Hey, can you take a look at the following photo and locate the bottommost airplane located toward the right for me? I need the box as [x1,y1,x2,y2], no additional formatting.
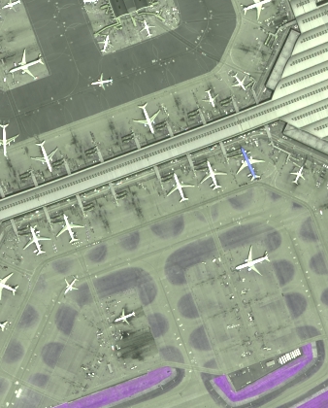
[236,241,273,274]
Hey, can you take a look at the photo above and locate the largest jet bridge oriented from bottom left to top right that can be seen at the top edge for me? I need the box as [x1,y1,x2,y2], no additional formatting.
[265,20,297,45]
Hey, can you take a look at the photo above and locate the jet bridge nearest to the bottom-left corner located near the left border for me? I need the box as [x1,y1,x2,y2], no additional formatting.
[10,220,30,237]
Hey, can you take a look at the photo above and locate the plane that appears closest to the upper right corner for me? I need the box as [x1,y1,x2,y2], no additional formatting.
[242,0,270,19]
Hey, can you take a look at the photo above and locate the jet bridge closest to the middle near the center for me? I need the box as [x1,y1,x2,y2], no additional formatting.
[154,167,174,182]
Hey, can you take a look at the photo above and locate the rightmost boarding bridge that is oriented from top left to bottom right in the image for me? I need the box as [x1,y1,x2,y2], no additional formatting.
[266,127,301,168]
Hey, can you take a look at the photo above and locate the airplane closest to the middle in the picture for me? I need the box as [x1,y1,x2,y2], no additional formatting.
[169,174,197,202]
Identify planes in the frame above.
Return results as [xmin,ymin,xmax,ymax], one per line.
[237,147,268,181]
[242,0,270,19]
[0,122,19,156]
[58,215,86,243]
[141,21,155,37]
[96,36,112,52]
[201,86,218,106]
[169,174,197,202]
[66,278,79,292]
[237,74,249,91]
[236,241,273,274]
[24,226,53,255]
[203,161,229,189]
[9,46,45,76]
[91,71,114,90]
[28,138,58,171]
[132,102,159,133]
[3,0,22,10]
[0,274,20,302]
[116,305,136,324]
